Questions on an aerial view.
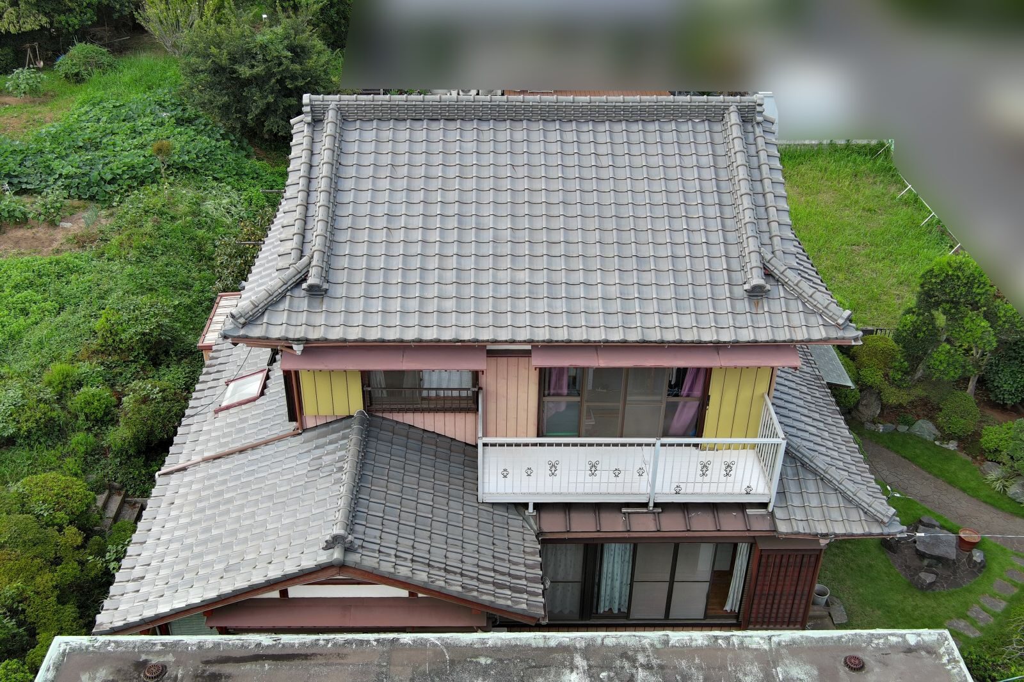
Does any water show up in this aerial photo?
No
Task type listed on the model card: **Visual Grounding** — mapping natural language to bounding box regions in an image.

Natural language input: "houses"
[329,0,709,92]
[93,95,911,631]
